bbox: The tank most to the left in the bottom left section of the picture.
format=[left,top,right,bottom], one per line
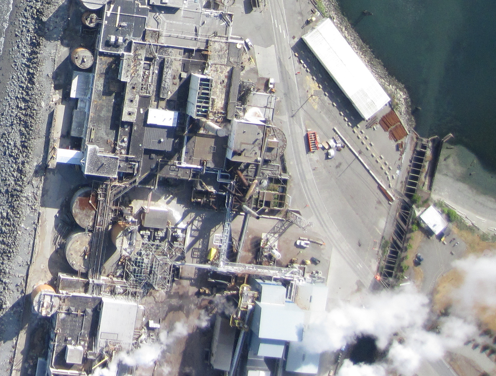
[30,281,62,317]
